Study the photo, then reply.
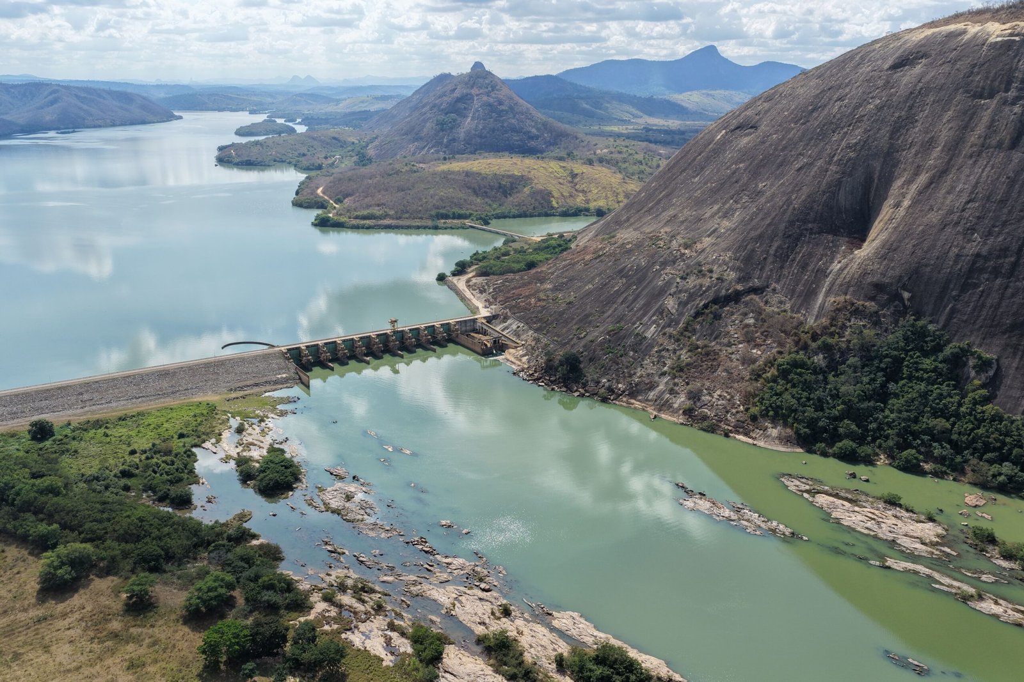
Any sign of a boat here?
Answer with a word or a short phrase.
No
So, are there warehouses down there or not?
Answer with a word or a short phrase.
No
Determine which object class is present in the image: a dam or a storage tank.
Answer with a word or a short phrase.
dam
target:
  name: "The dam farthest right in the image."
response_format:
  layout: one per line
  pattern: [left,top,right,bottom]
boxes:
[280,312,489,385]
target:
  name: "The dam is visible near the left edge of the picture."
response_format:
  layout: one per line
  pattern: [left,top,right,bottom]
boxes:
[0,345,301,430]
